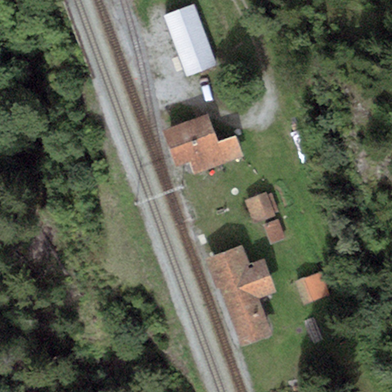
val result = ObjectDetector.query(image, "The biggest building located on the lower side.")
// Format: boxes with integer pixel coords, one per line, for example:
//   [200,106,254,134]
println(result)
[205,246,276,348]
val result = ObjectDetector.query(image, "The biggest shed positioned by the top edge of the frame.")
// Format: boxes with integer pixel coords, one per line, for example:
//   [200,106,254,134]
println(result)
[164,4,216,77]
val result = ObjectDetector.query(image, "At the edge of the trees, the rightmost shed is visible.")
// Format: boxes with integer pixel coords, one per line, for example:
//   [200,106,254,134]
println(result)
[294,272,329,306]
